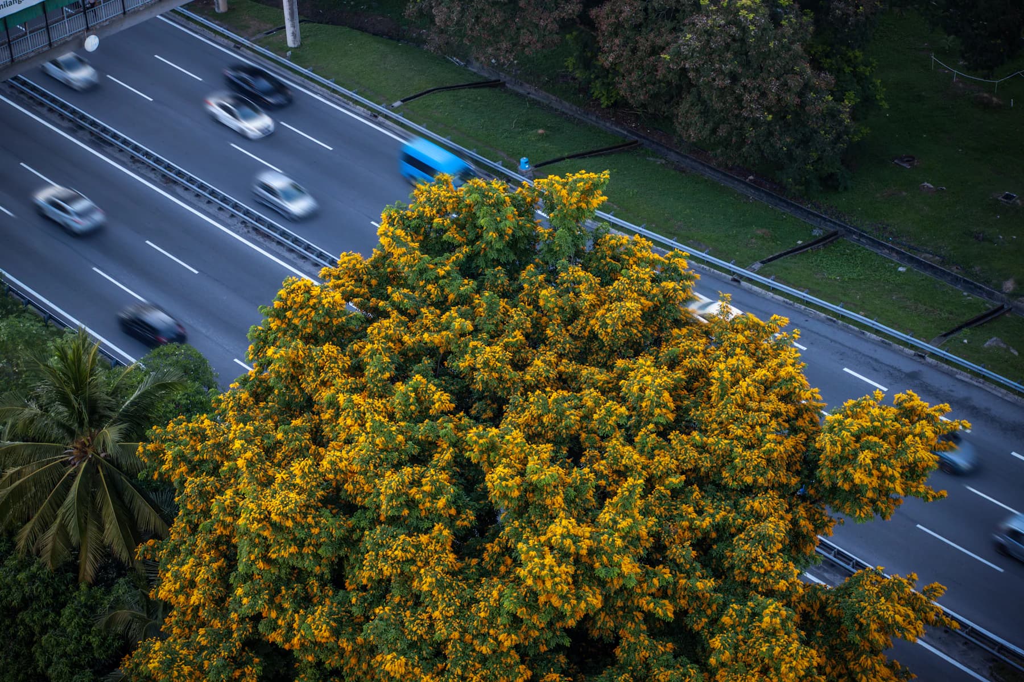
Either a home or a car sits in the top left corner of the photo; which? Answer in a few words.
car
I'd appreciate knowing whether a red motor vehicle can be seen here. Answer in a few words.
No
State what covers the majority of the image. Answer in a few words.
trees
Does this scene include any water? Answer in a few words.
No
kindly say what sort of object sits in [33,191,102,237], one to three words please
car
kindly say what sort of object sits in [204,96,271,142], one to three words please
car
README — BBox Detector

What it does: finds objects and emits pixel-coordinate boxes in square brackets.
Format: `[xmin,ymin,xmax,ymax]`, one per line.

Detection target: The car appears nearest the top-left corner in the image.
[42,53,98,94]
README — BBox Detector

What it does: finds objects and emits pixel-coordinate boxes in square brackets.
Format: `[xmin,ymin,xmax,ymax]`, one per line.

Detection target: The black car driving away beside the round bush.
[113,301,190,354]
